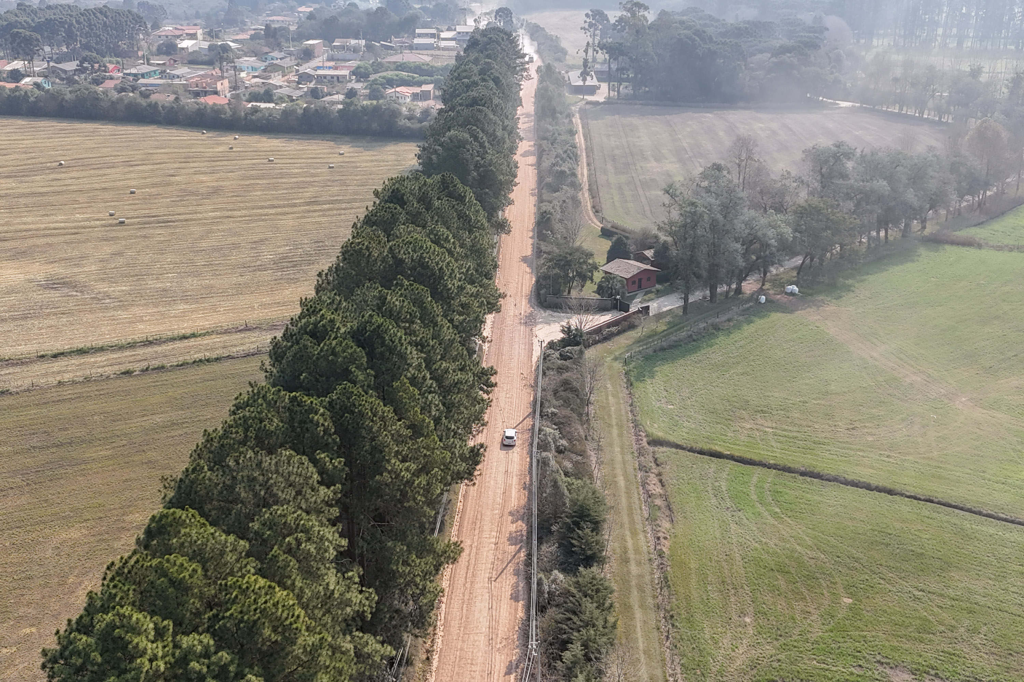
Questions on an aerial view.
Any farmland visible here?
Yes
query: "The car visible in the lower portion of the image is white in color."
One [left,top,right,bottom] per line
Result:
[501,428,518,447]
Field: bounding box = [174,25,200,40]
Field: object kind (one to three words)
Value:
house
